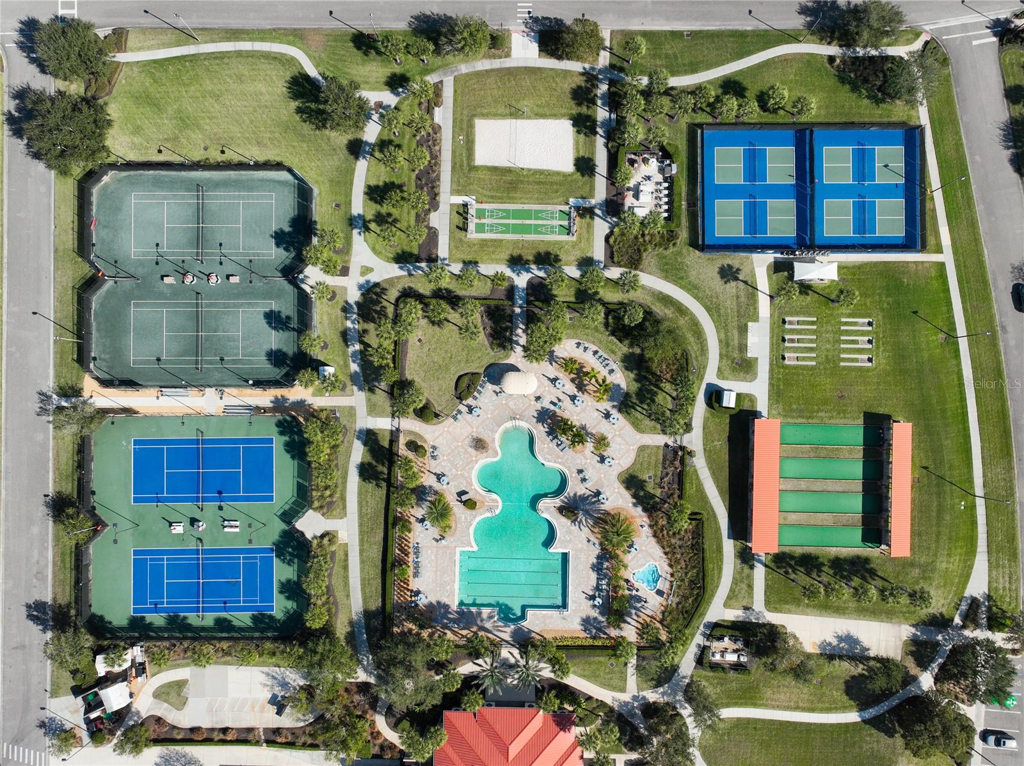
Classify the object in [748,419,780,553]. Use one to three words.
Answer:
building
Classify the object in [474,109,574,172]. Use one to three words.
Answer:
sports court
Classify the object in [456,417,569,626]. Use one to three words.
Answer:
swimming pool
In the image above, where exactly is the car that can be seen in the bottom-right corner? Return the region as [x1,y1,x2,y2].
[984,732,1015,747]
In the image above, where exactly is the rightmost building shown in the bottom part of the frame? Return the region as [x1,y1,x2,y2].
[883,422,912,557]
